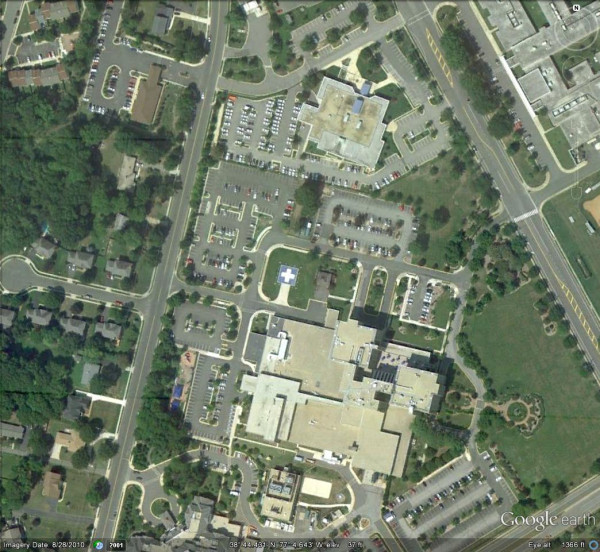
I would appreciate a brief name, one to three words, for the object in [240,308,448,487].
building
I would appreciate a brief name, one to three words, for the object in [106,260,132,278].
house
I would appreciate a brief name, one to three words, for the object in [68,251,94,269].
house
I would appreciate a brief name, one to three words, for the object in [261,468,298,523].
building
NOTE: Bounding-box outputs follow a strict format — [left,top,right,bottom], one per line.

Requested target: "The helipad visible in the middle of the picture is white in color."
[278,265,299,285]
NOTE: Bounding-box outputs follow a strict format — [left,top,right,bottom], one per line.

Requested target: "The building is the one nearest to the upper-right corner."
[478,0,600,150]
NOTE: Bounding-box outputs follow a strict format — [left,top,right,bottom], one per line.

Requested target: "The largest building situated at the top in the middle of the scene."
[299,77,389,171]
